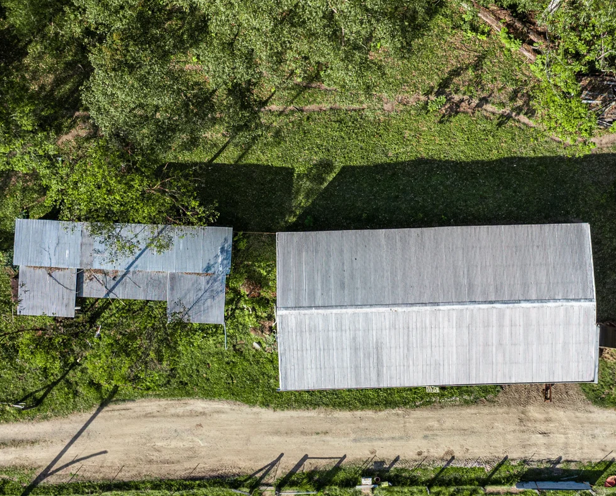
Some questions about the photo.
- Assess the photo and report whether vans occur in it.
No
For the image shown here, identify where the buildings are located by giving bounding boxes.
[274,223,601,392]
[14,218,235,350]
